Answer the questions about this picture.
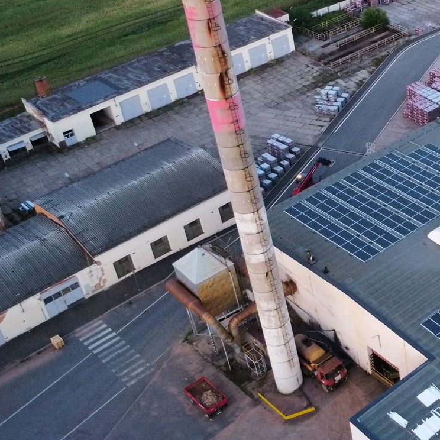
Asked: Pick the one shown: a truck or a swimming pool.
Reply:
truck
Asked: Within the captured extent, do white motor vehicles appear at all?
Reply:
No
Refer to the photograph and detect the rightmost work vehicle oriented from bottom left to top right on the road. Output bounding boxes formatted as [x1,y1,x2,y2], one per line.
[292,160,337,198]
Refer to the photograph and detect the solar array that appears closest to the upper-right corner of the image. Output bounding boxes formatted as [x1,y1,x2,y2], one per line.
[282,143,440,263]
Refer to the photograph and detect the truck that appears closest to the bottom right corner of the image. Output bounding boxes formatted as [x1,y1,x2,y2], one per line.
[291,335,350,395]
